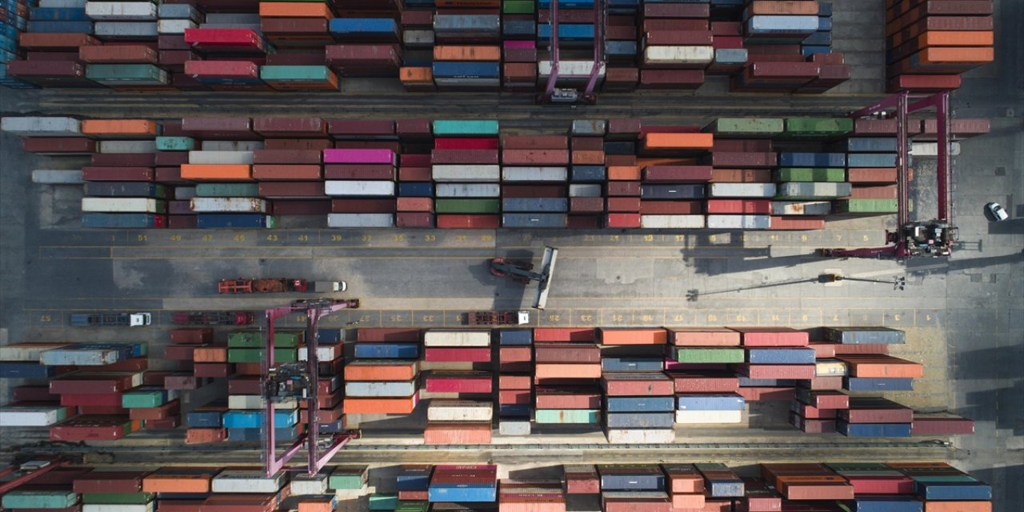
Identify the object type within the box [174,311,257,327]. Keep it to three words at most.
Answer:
vehicle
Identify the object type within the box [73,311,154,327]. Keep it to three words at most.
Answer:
vehicle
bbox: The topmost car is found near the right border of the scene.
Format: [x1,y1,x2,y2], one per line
[987,202,1007,222]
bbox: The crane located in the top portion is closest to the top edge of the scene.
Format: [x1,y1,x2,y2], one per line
[534,0,605,101]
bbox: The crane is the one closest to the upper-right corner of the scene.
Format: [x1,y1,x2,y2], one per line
[825,86,956,264]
